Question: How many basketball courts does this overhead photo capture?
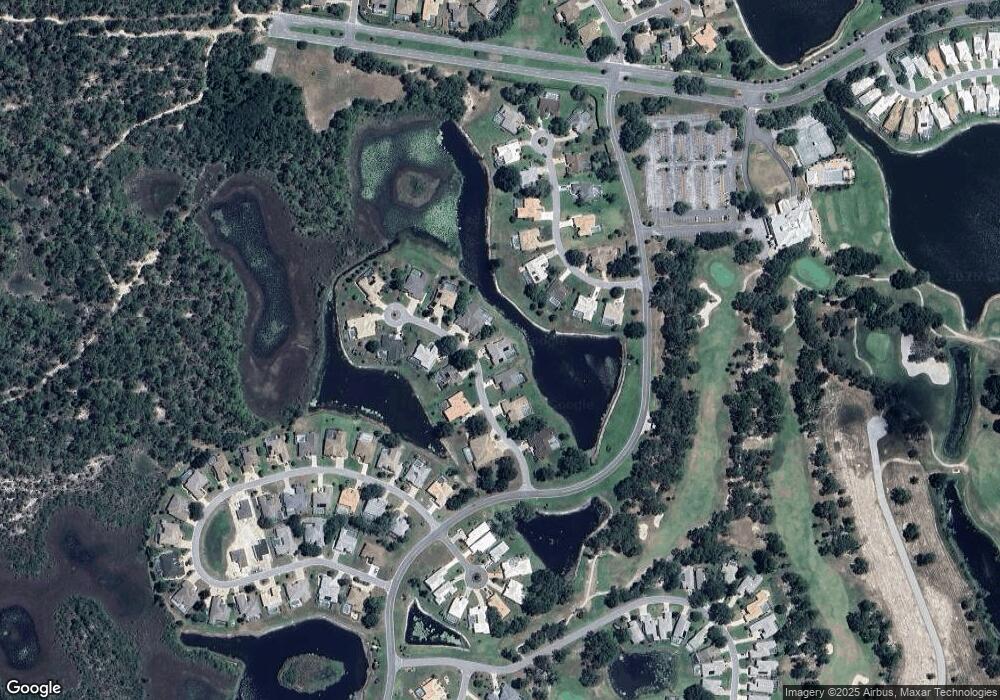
0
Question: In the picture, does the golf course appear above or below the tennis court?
below it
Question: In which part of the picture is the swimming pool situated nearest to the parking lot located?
top right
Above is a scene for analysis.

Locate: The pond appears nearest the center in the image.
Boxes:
[518,502,603,573]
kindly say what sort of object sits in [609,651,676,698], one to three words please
pond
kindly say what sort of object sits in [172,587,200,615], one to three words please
house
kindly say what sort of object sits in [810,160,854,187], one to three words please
swimming pool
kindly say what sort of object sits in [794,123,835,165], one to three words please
tennis court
